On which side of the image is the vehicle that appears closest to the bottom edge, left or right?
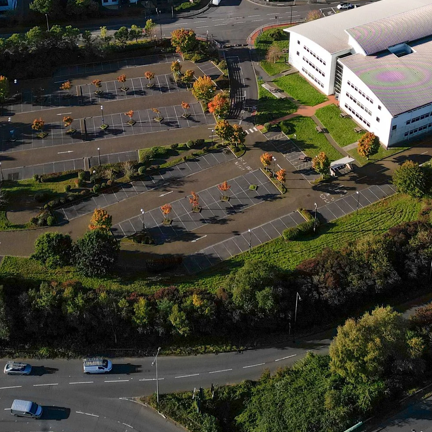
left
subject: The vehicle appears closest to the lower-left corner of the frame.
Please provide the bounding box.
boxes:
[9,400,44,421]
